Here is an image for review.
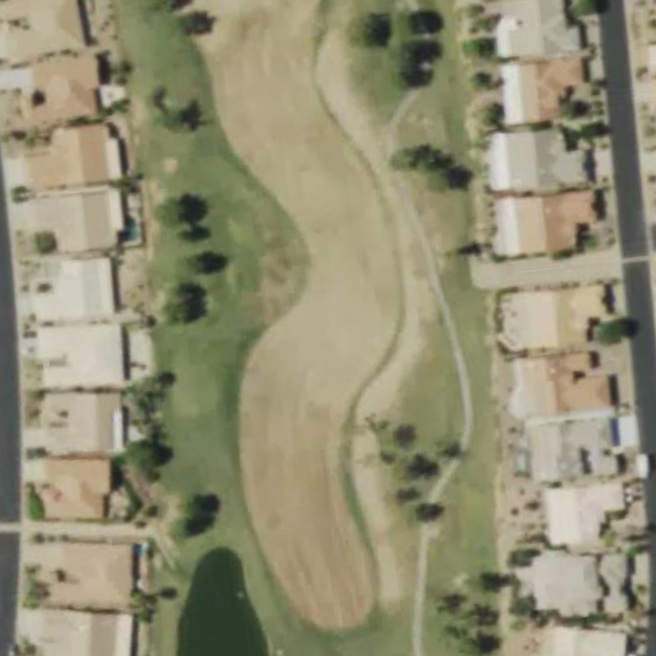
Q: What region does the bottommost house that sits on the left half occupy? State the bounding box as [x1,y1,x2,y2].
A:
[41,609,132,656]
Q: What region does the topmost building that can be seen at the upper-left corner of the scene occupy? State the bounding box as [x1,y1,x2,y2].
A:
[0,0,84,58]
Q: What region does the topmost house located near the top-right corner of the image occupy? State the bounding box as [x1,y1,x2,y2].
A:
[496,0,585,59]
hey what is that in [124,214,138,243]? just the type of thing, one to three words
swimming pool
